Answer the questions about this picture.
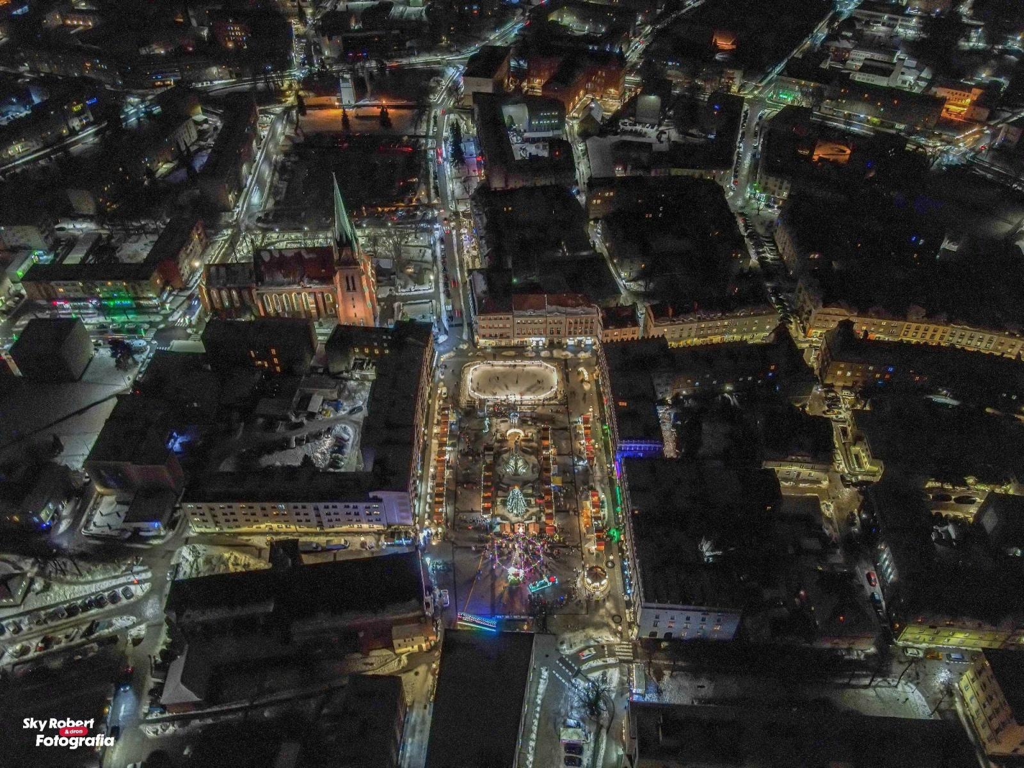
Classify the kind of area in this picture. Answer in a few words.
residential area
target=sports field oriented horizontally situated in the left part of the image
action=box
[298,108,425,136]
